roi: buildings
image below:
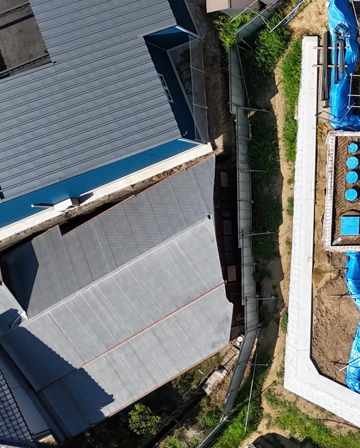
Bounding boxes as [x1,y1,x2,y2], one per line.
[0,154,243,438]
[207,0,269,15]
[0,0,216,223]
